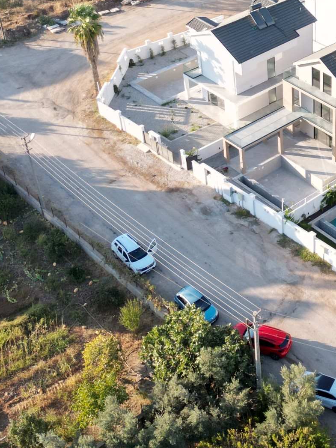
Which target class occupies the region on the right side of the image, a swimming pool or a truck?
swimming pool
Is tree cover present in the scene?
Yes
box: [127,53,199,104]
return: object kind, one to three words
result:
swimming pool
